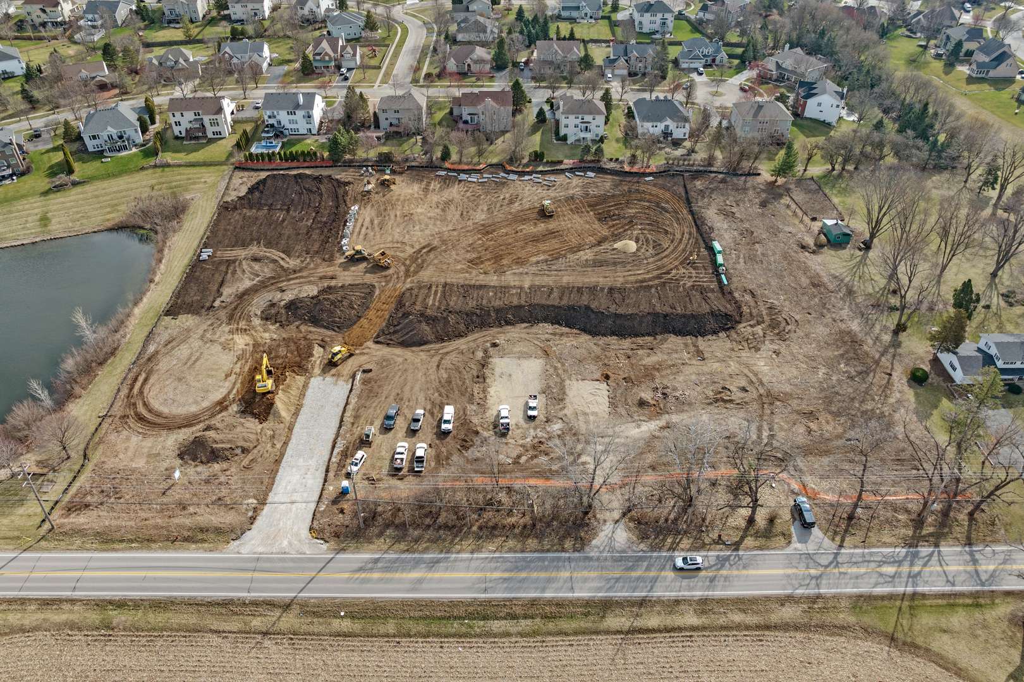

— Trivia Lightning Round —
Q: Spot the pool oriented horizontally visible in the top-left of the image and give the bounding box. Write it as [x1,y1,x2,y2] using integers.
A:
[248,137,283,154]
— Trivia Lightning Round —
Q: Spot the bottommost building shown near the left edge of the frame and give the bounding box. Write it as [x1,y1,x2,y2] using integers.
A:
[0,130,55,184]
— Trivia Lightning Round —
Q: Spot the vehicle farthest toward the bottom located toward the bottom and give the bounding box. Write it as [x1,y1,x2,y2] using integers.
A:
[673,553,704,569]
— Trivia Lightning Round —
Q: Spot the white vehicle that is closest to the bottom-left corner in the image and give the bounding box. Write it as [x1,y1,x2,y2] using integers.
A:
[346,450,366,474]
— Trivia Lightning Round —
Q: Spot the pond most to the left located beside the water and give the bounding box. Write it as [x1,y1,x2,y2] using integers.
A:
[0,227,156,418]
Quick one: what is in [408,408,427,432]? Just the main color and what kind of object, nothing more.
gray vehicle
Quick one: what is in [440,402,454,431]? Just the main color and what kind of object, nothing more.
white vehicle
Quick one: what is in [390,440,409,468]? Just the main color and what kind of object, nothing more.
white vehicle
